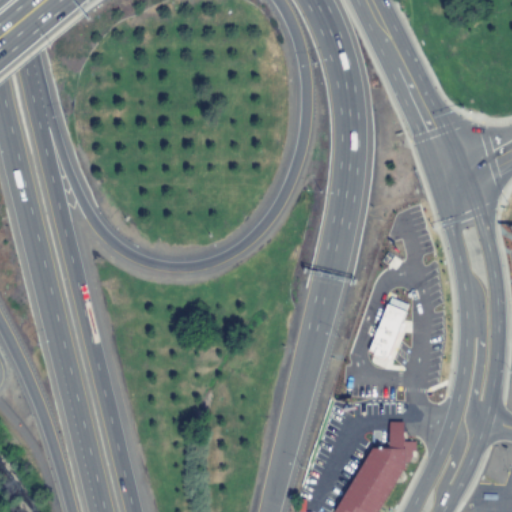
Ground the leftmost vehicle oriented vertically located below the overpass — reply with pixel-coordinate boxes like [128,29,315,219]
[13,168,27,200]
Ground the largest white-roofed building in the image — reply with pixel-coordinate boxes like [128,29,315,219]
[370,298,414,360]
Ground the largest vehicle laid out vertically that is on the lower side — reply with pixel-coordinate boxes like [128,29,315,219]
[82,285,101,342]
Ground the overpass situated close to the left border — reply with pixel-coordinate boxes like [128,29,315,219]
[0,0,108,84]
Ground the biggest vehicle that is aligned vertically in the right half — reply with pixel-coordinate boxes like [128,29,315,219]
[334,36,350,70]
